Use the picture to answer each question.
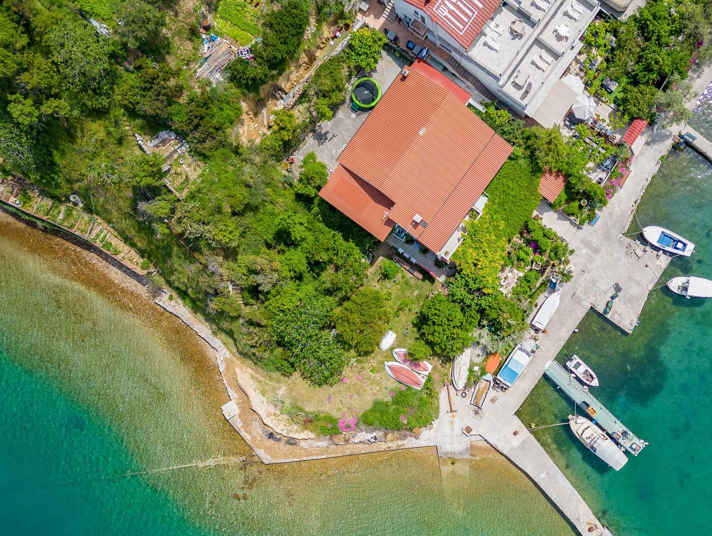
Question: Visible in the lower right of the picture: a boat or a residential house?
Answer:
boat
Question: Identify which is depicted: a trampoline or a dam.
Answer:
trampoline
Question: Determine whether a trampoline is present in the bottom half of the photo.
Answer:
No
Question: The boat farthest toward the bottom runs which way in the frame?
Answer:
diagonally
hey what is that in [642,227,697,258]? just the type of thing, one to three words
boat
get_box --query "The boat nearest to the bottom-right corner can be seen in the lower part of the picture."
[566,418,630,474]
